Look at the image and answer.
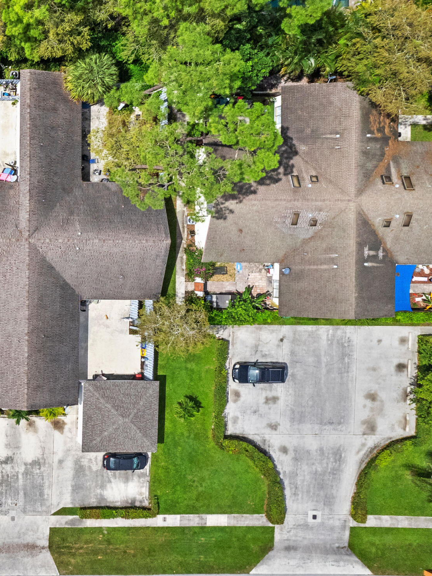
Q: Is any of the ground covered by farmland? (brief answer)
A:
No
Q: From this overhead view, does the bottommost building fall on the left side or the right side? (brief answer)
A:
left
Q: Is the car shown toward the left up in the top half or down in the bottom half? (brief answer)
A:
bottom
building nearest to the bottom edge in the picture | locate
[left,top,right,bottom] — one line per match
[80,381,159,453]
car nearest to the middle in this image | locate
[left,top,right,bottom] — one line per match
[231,360,286,384]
